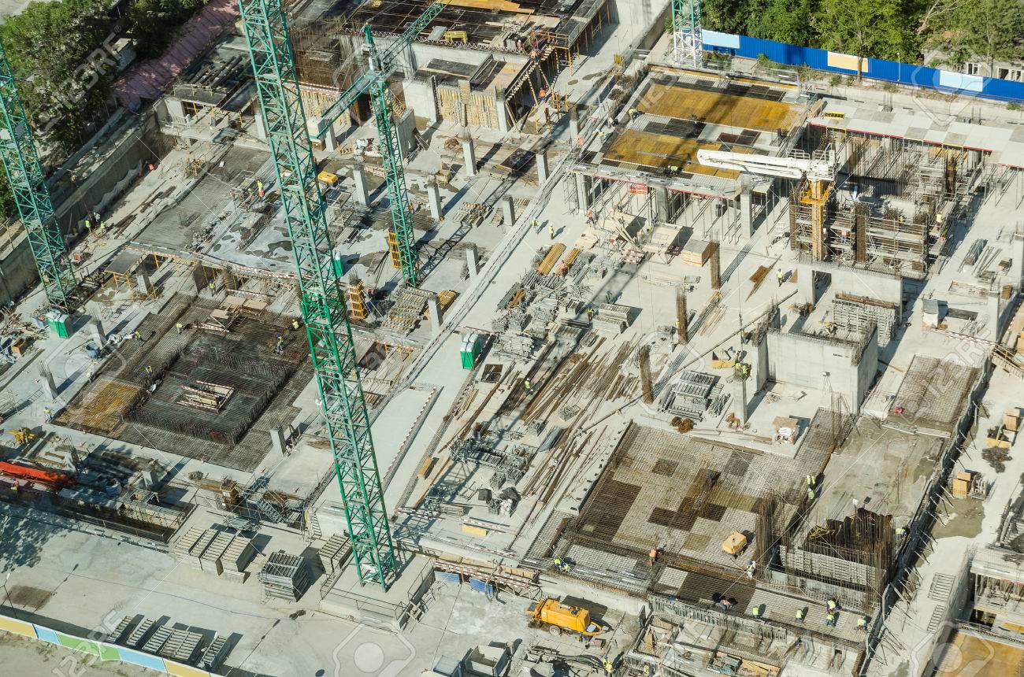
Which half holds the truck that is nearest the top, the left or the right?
left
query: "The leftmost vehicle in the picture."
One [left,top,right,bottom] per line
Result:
[0,457,73,502]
